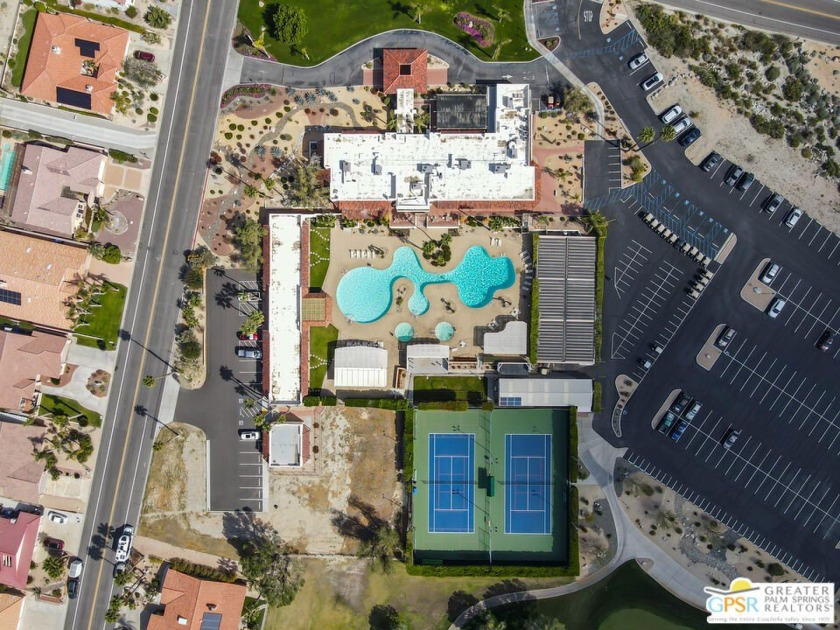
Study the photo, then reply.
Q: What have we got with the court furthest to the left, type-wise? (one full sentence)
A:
The court furthest to the left in the image is a tennis court.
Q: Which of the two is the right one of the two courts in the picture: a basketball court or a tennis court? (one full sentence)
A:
Specifically, the right one of the two courts is a tennis court.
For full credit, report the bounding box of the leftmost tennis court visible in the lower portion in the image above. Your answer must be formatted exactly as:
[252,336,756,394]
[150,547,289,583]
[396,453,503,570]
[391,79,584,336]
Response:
[413,408,490,562]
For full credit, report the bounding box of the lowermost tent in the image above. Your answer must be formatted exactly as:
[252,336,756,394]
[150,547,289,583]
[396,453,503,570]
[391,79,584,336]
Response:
[332,350,387,386]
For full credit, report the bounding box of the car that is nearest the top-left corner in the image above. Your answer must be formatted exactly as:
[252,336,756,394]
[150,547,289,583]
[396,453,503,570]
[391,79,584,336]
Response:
[135,49,156,62]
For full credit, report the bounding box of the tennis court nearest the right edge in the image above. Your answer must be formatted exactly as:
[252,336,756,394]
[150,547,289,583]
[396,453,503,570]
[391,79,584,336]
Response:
[490,408,568,562]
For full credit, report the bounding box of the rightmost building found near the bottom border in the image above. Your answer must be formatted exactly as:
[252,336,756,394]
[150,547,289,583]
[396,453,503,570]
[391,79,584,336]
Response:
[146,567,249,630]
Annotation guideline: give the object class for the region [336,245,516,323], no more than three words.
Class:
swimming pool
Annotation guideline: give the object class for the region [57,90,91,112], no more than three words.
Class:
solar panel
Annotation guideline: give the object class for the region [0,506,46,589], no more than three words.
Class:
house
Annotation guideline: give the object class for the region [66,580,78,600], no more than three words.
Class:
vehicle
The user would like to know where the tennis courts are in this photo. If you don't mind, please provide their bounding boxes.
[413,408,490,562]
[490,408,568,562]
